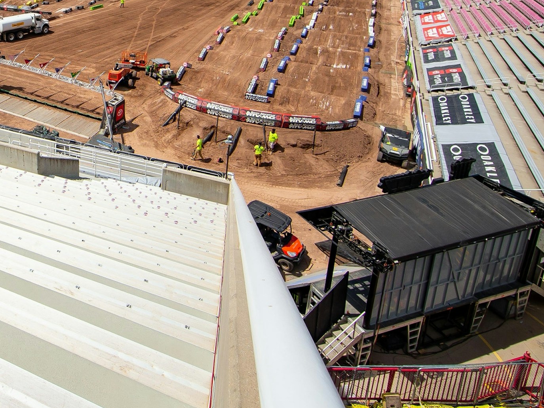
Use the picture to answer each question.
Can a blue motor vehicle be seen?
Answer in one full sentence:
No, no blue motor vehicle is visible in the scene.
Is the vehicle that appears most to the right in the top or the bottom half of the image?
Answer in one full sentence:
The top half of the photo is where the vehicle that appears most to the right is.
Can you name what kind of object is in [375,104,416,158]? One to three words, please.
vehicle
